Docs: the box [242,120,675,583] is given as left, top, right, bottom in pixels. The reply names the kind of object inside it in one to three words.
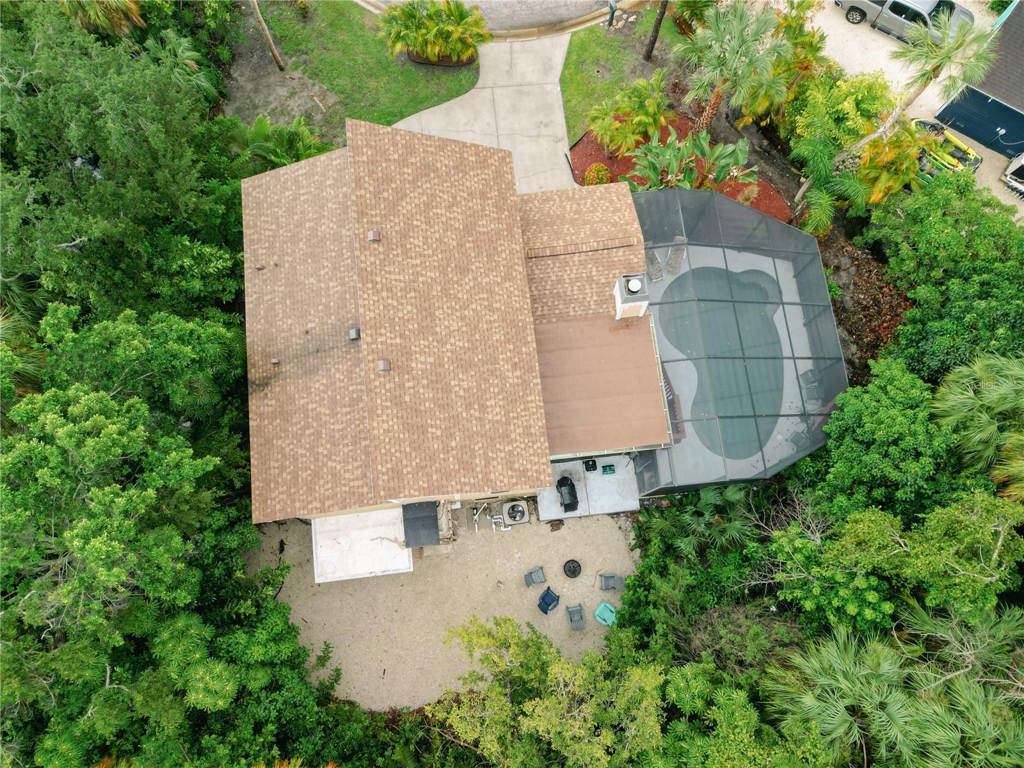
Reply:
house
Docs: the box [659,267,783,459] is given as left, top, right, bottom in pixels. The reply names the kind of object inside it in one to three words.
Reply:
swimming pool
